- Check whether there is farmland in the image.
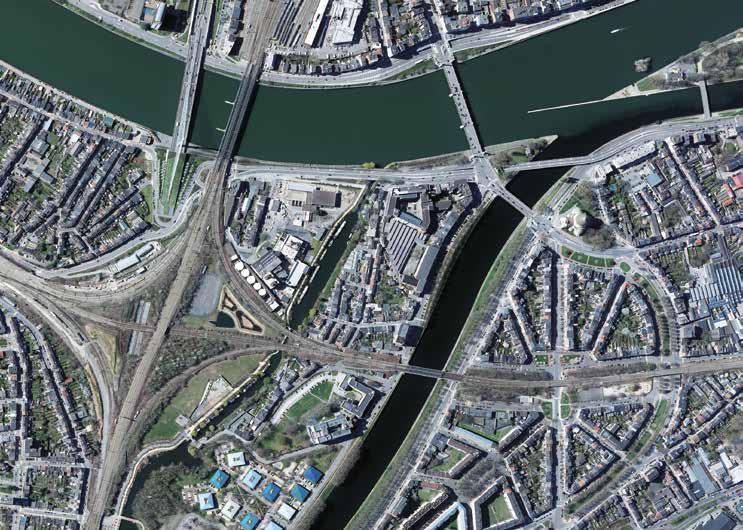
No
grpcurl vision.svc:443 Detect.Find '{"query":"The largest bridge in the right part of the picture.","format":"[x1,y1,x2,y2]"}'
[439,57,485,161]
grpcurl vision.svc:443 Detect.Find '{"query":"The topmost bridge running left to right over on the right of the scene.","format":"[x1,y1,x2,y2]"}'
[491,154,591,174]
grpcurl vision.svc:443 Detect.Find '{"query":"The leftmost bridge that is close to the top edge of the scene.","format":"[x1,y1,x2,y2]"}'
[171,0,210,151]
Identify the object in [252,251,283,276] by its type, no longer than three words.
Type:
building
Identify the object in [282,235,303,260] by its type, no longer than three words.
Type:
building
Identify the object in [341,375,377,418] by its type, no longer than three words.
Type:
house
